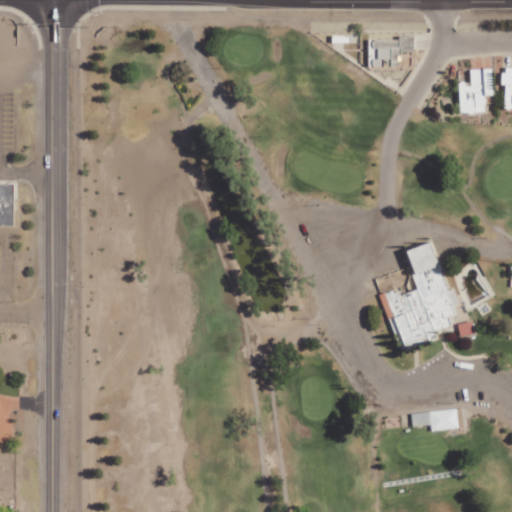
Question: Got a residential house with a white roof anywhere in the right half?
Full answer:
Yes, a residential house with a white roof shows up in the right half.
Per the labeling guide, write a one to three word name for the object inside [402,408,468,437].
building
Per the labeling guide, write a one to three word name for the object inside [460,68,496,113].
house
